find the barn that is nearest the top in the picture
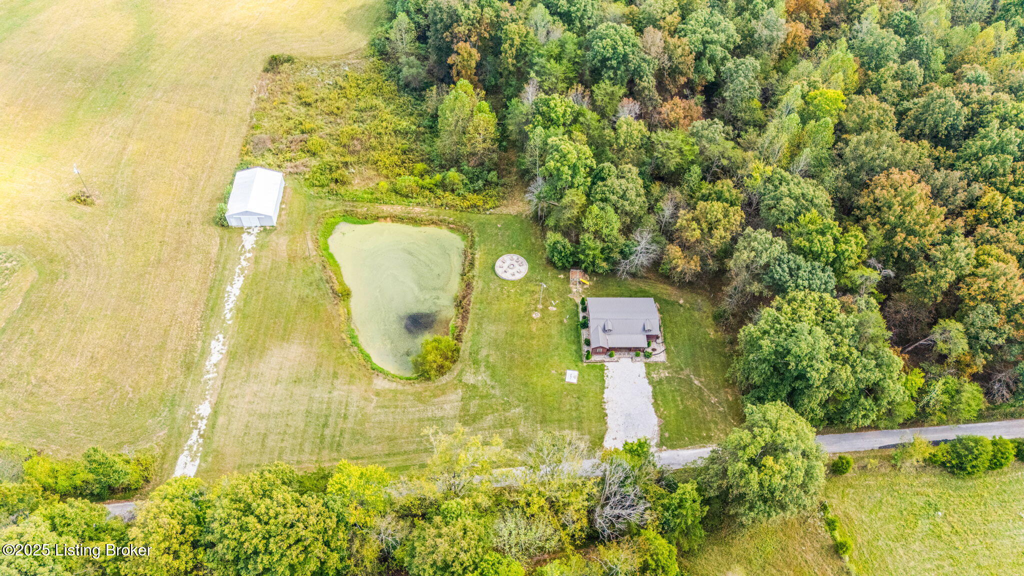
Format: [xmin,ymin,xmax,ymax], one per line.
[224,166,285,227]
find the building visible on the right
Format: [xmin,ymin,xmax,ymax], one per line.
[587,298,660,355]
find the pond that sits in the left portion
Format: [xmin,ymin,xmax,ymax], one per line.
[327,222,465,377]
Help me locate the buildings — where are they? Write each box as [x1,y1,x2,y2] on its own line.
[224,166,285,227]
[587,298,660,355]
